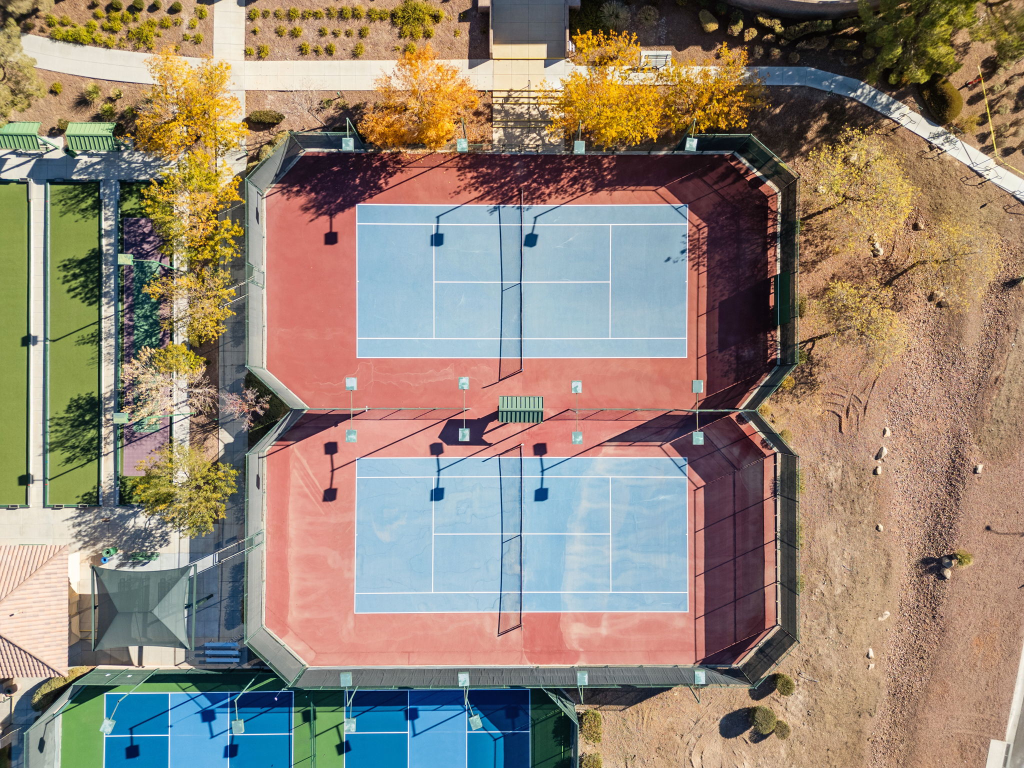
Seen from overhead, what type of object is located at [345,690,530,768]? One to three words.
sports court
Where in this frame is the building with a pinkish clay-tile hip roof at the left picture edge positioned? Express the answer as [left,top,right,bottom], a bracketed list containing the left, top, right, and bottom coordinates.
[0,544,83,678]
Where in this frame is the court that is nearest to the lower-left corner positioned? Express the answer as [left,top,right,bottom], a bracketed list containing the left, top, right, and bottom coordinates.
[105,693,293,768]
